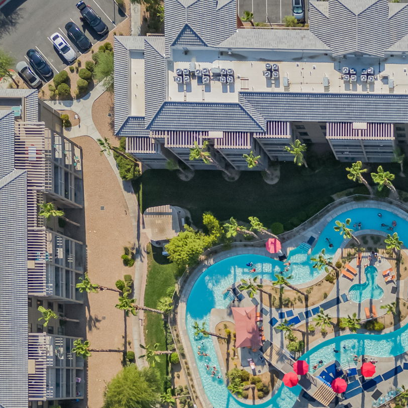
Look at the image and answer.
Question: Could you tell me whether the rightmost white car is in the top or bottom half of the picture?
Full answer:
Seen from above, the rightmost white car lies in the top half of the view.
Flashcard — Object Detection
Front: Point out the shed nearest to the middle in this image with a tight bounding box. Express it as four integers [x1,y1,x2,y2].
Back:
[144,206,181,239]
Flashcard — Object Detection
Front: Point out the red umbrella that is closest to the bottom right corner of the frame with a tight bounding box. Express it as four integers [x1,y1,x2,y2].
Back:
[361,362,377,377]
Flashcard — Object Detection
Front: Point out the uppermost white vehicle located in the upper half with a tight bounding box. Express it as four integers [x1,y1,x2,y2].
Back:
[52,33,76,61]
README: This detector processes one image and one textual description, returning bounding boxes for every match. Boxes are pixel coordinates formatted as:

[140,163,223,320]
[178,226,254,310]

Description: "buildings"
[113,0,408,172]
[0,87,82,408]
[144,206,181,239]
